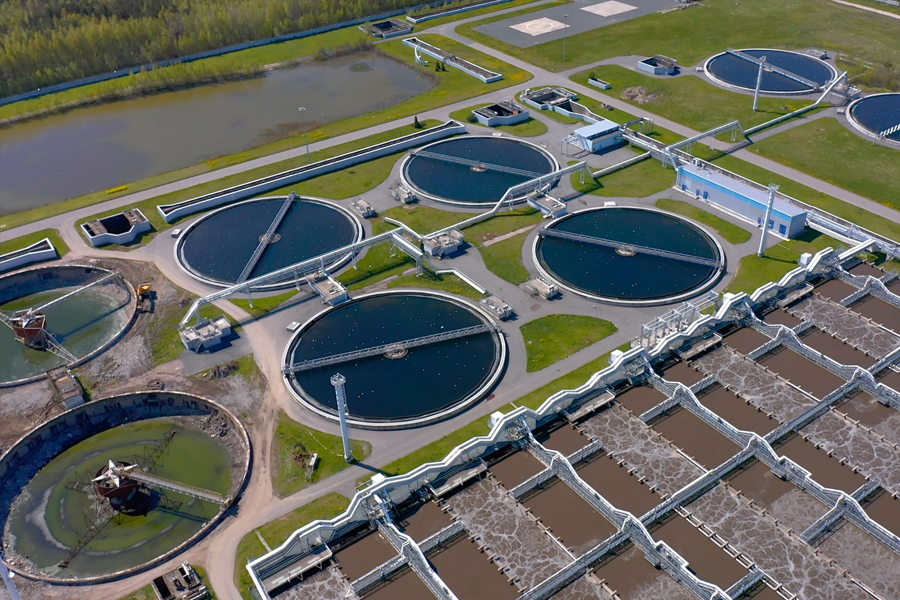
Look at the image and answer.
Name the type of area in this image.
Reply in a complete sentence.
What you see here is an industrial area.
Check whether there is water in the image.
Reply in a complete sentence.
Yes, there is water in the image.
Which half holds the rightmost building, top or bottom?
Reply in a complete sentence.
You can find the rightmost building in the top half.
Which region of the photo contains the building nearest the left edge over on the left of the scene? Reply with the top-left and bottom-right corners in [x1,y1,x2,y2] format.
[177,309,231,352]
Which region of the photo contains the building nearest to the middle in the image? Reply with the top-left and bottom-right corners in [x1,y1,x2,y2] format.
[420,223,466,258]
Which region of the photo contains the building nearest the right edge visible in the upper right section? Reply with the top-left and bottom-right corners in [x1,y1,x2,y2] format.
[818,82,867,110]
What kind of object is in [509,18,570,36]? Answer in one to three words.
helipad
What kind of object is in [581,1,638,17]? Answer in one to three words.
helipad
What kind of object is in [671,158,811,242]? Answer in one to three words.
building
